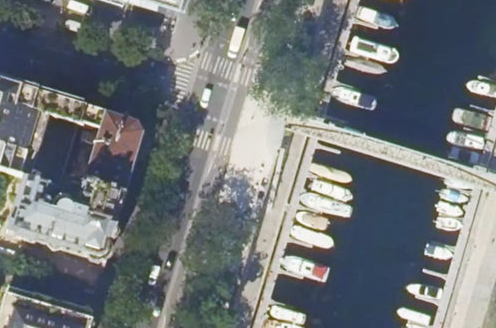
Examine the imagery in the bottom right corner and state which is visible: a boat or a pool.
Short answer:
boat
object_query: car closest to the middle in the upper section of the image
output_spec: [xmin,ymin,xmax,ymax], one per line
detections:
[199,86,213,109]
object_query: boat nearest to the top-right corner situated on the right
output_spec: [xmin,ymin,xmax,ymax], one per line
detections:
[466,80,496,100]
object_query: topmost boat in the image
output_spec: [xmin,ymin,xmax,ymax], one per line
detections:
[354,7,399,28]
